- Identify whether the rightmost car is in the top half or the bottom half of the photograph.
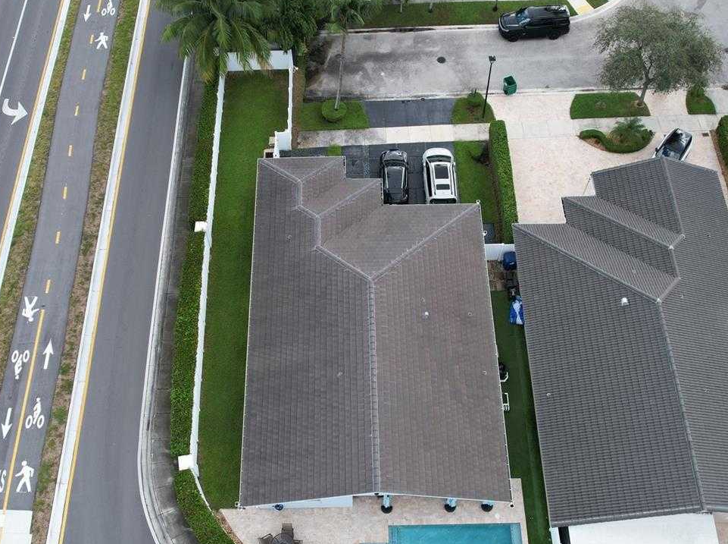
top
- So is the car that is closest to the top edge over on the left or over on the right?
right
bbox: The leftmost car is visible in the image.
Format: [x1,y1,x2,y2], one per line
[379,149,412,204]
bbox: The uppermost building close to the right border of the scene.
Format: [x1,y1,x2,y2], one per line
[511,159,728,526]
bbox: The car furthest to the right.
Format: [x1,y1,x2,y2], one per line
[656,127,698,165]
